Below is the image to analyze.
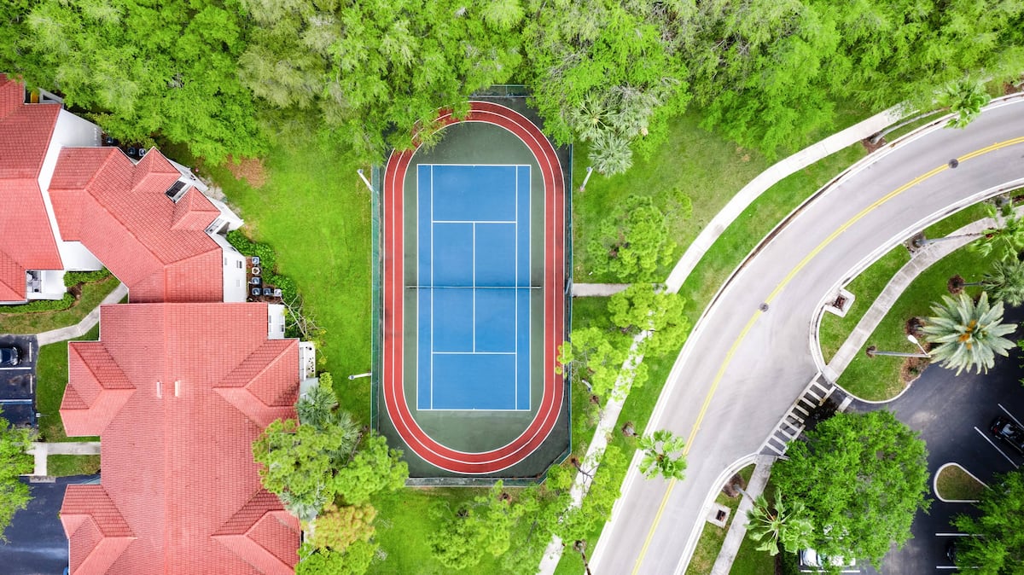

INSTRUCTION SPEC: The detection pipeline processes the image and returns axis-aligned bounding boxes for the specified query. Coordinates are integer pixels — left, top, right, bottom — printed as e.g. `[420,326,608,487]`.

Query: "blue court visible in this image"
[417,164,531,411]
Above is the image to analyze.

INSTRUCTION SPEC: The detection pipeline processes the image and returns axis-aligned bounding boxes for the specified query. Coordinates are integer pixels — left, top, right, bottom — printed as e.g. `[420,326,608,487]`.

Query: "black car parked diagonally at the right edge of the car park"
[996,422,1024,461]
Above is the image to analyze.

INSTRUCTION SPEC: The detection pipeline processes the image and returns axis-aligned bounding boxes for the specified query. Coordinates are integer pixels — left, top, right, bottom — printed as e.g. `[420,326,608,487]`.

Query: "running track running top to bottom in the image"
[384,101,564,474]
